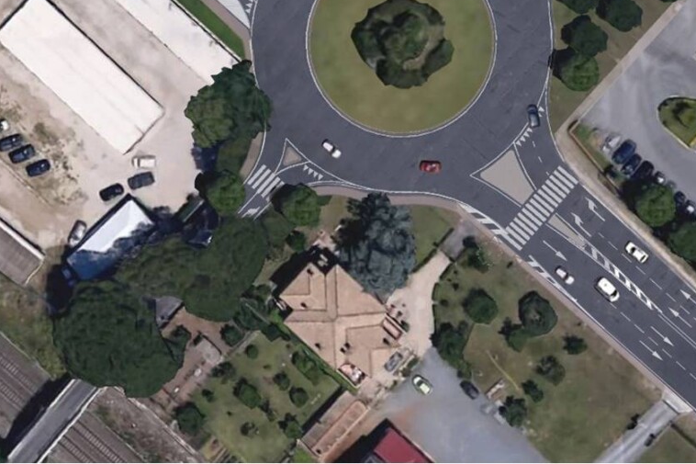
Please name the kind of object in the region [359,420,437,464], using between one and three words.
house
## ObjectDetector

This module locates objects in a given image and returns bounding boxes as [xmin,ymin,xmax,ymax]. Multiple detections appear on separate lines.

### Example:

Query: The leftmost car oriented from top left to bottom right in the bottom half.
[411,374,432,394]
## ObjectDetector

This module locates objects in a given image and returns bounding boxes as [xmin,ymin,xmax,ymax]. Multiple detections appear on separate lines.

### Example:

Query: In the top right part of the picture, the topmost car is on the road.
[527,104,540,128]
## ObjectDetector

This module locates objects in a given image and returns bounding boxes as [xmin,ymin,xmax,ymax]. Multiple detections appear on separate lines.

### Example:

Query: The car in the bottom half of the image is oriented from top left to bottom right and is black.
[458,379,480,400]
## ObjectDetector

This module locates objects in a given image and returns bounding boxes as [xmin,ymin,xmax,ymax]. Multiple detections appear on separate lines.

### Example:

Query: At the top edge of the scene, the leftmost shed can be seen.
[0,0,165,154]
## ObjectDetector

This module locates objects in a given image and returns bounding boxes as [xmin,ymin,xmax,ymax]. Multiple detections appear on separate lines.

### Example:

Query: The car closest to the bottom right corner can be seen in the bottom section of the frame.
[595,275,621,303]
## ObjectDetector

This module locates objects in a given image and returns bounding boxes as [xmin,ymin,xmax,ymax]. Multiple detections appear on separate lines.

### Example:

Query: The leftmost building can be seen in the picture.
[0,220,44,286]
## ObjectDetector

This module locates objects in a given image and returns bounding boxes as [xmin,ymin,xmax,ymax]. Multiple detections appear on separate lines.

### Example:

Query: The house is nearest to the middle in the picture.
[279,263,401,390]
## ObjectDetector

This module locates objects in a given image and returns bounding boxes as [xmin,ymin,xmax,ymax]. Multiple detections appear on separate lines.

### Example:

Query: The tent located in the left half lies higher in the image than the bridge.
[65,198,157,282]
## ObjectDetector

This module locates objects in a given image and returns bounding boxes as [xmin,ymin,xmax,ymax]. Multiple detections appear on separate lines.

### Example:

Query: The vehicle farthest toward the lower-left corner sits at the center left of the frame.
[69,220,87,244]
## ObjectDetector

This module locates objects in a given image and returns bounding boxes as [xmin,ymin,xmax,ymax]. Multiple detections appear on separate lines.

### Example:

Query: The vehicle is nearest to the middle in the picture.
[321,139,342,159]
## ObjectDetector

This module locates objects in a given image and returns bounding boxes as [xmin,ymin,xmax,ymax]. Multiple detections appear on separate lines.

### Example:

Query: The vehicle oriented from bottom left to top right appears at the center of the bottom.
[383,349,404,372]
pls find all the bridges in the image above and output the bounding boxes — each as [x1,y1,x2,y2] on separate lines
[2,382,99,464]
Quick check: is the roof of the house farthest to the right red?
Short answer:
Yes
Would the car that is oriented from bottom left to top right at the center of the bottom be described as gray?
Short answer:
Yes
